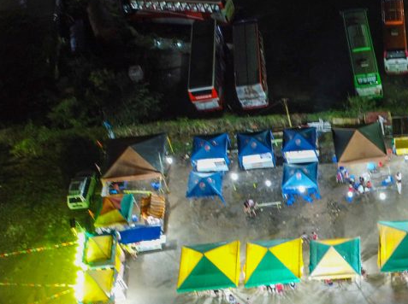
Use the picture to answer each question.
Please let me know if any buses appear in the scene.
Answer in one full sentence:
Yes, the frame does contain a bus.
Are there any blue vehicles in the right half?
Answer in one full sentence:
No, no blue vehicle can be made out in the right half.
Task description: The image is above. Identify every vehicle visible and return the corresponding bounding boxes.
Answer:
[234,20,267,110]
[187,19,223,112]
[343,10,382,98]
[63,175,96,219]
[123,0,236,26]
[381,0,408,74]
